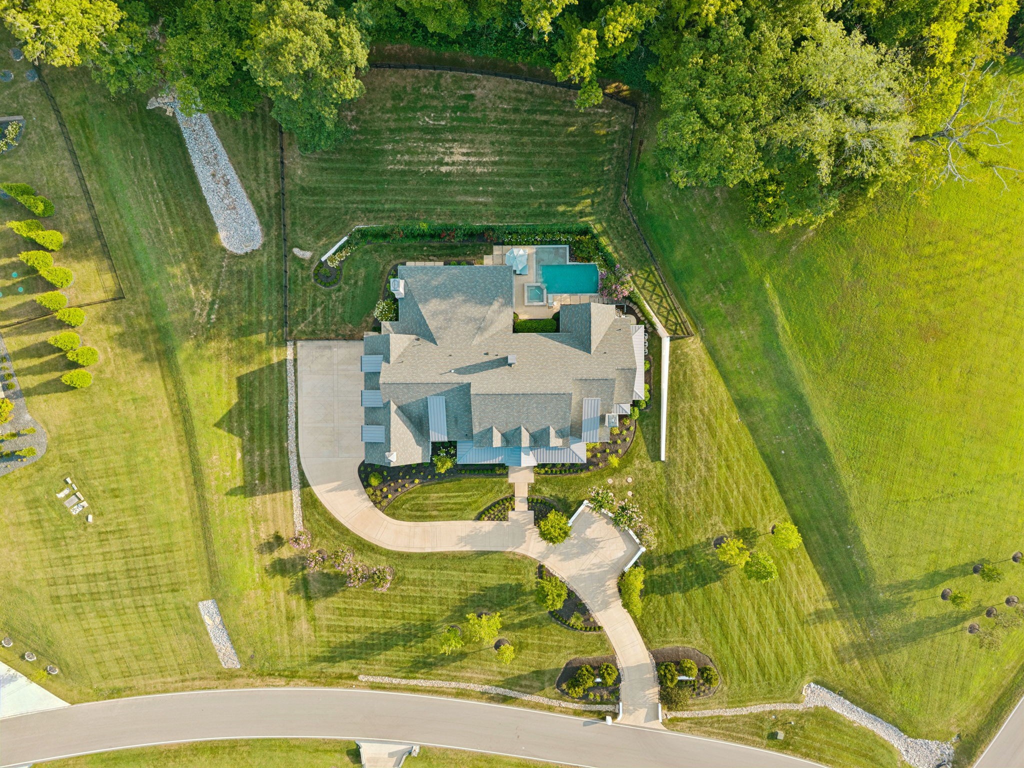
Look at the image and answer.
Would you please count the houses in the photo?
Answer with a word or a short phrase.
1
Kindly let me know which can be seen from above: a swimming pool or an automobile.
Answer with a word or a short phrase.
swimming pool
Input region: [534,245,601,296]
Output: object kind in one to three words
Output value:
swimming pool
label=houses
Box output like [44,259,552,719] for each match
[360,265,645,467]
